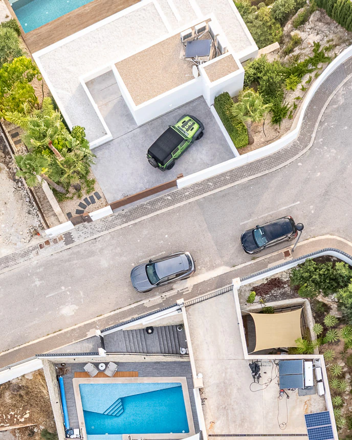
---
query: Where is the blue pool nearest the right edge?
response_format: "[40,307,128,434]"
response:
[73,378,194,440]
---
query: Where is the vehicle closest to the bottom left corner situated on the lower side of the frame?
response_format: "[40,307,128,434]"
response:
[130,249,197,293]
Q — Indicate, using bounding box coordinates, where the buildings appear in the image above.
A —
[33,0,258,156]
[183,287,340,440]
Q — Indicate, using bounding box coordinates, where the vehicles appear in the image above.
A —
[130,249,197,293]
[145,111,206,174]
[238,214,301,255]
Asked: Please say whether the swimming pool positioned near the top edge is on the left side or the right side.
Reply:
left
